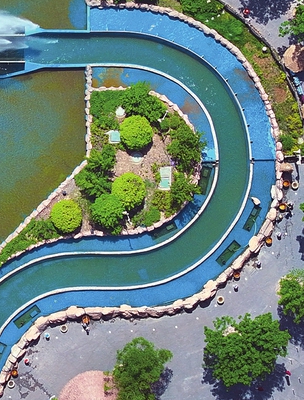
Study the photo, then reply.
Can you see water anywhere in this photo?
Yes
